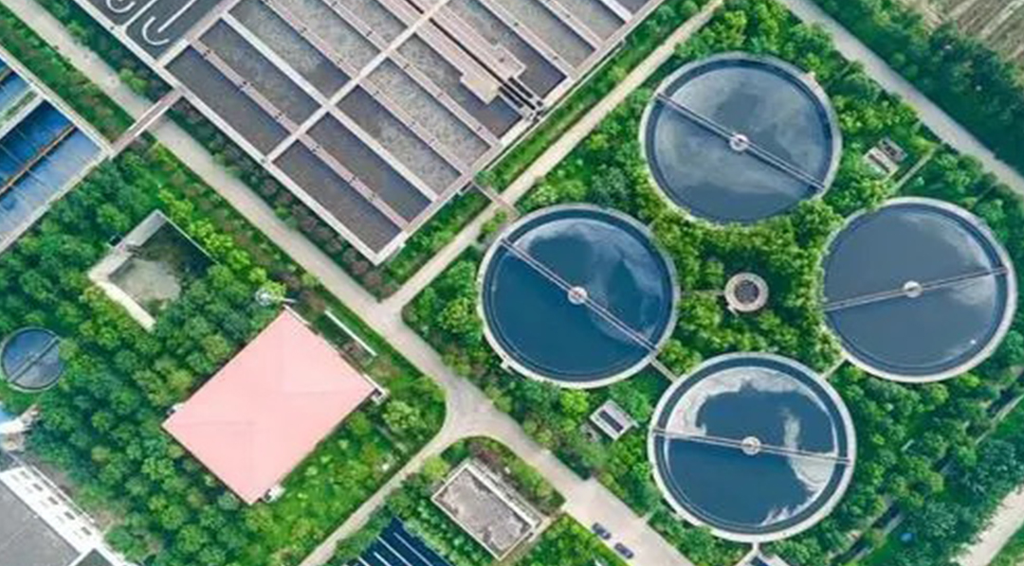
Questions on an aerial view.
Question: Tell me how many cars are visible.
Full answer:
The number of cars here is 2.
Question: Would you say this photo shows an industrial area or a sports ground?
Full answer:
It's an industrial area.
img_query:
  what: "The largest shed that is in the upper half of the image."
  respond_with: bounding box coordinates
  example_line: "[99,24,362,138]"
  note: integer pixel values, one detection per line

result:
[862,145,901,183]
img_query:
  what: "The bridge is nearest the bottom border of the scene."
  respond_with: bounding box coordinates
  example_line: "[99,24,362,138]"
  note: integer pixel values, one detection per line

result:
[648,422,854,466]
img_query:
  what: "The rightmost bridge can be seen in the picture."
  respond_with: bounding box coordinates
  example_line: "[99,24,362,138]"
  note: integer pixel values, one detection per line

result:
[820,262,1013,310]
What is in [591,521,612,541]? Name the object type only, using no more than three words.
car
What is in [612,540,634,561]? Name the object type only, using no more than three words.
car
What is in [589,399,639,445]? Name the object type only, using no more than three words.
shed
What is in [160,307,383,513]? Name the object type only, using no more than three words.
building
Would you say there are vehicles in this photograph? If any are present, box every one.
[591,521,612,541]
[612,540,634,561]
